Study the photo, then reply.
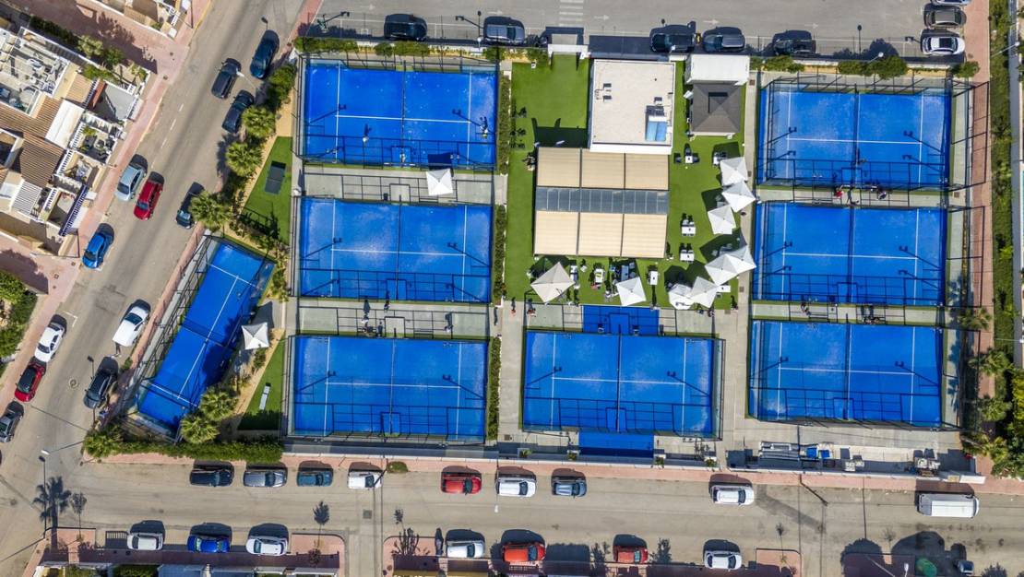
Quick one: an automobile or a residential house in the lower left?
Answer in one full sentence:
You can see an automobile in the lower left.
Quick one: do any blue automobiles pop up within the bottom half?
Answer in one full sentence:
Yes, there is a blue automobile within the bottom half.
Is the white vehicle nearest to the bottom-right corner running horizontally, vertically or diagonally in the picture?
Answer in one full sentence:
In this picture, the white vehicle nearest to the bottom-right corner is oriented horizontally.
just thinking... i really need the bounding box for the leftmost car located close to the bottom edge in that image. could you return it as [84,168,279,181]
[126,530,167,552]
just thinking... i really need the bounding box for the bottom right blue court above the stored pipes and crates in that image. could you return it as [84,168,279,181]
[745,316,980,435]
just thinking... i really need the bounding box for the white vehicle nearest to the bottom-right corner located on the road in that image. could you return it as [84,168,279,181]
[912,493,974,520]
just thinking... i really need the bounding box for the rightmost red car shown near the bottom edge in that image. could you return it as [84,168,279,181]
[613,544,649,566]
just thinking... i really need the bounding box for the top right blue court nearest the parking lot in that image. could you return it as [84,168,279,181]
[753,69,990,196]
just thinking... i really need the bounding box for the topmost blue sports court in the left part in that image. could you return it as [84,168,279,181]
[294,45,505,174]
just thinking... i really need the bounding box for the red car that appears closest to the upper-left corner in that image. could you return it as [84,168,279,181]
[133,176,167,220]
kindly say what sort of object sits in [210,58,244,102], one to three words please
car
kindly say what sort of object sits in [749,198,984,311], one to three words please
sports court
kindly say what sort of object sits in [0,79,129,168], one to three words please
house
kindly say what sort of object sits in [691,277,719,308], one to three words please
umbrella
